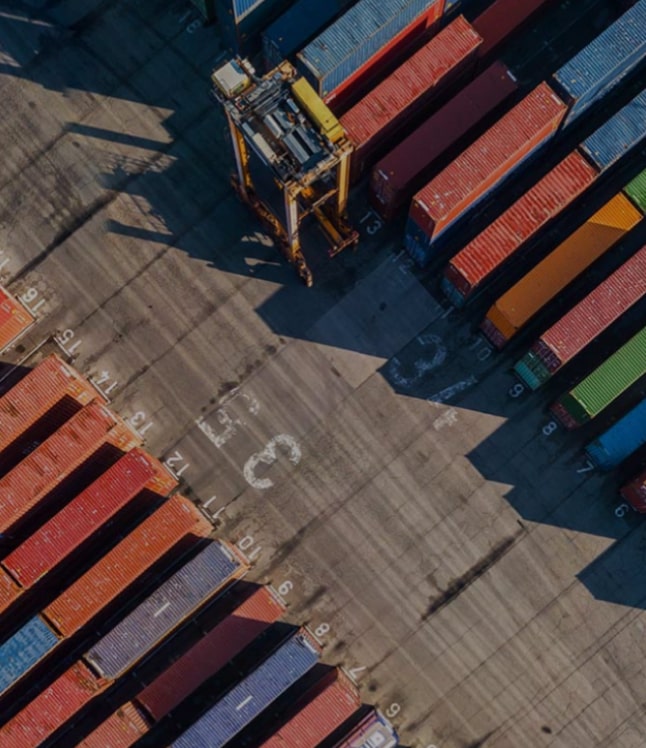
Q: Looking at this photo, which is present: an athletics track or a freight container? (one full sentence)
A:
The one in the frame is a freight container.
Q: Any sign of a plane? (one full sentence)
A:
No, I find no plane anywhere in the image.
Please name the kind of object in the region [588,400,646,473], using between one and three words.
shipping container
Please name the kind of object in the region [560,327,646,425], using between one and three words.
shipping container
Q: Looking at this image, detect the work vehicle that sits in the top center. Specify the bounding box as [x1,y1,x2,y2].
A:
[205,41,365,278]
